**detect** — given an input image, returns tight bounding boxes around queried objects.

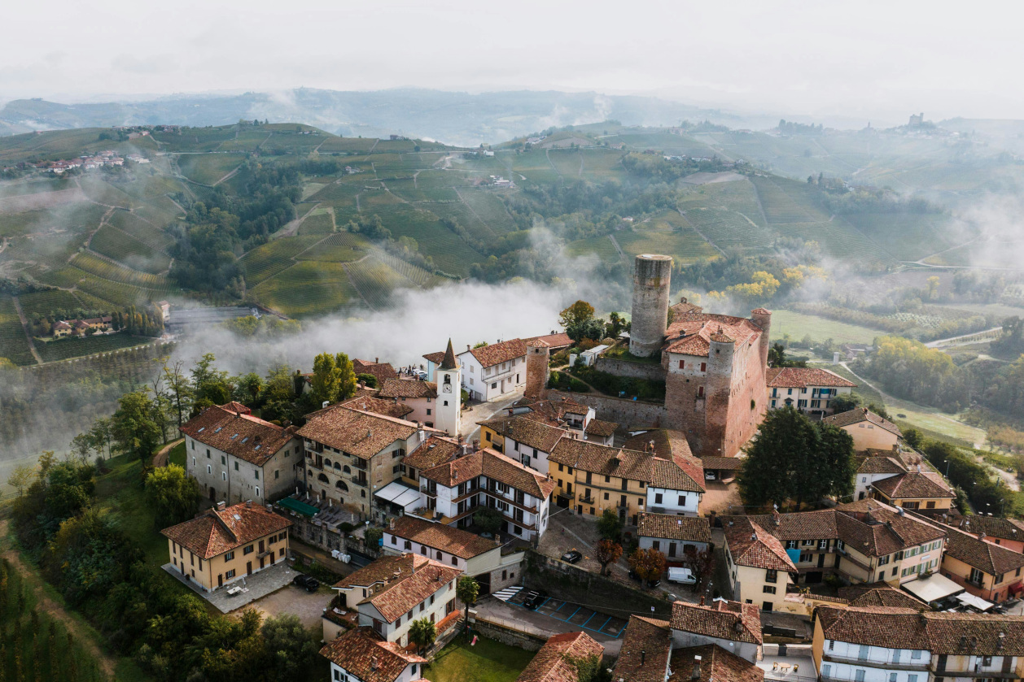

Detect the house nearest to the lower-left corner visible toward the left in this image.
[163,496,294,589]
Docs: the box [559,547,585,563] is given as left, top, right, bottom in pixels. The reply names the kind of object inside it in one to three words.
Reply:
car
